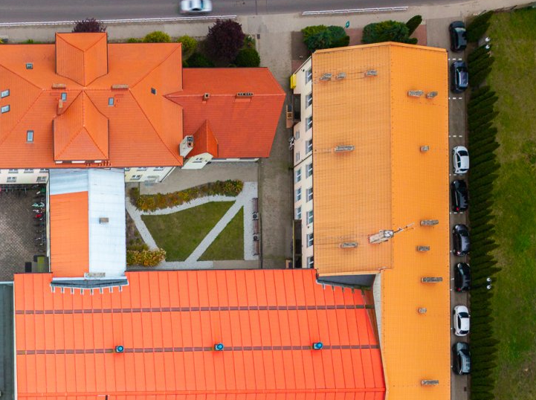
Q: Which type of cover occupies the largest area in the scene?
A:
buildings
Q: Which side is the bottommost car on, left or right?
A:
right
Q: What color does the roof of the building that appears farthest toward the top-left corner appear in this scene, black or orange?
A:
orange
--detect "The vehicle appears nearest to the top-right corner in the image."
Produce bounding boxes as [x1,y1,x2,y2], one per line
[449,20,467,55]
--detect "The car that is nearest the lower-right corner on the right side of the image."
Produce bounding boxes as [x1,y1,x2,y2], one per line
[451,342,471,377]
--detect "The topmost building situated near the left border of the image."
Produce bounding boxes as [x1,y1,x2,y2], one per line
[0,31,184,194]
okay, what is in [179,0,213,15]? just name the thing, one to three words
car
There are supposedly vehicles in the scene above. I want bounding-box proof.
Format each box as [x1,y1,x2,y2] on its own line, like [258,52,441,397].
[452,306,470,337]
[179,0,213,15]
[451,342,471,377]
[451,147,470,174]
[449,20,467,55]
[451,180,470,213]
[450,60,469,94]
[452,263,470,293]
[451,224,471,257]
